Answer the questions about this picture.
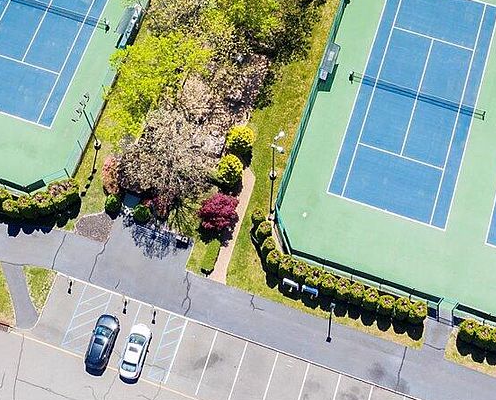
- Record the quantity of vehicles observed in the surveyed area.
2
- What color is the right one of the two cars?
white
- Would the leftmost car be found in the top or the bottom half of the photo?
bottom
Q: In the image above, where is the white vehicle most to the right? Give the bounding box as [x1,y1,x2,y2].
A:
[118,323,153,384]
